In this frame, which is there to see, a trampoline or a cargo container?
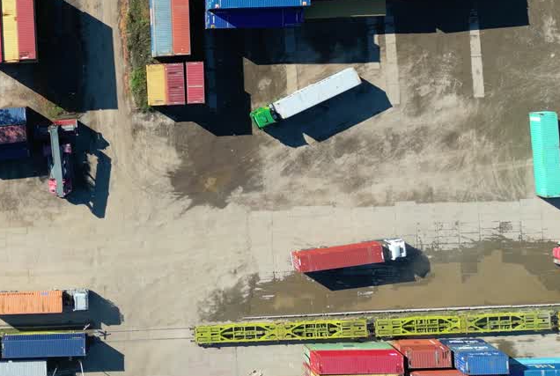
cargo container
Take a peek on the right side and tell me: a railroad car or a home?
railroad car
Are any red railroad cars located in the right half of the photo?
No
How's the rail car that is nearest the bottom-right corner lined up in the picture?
from side to side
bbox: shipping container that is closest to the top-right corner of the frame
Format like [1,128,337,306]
[530,112,560,197]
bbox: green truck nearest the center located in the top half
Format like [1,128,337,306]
[249,99,277,129]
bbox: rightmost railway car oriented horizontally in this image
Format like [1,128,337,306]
[376,310,558,335]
